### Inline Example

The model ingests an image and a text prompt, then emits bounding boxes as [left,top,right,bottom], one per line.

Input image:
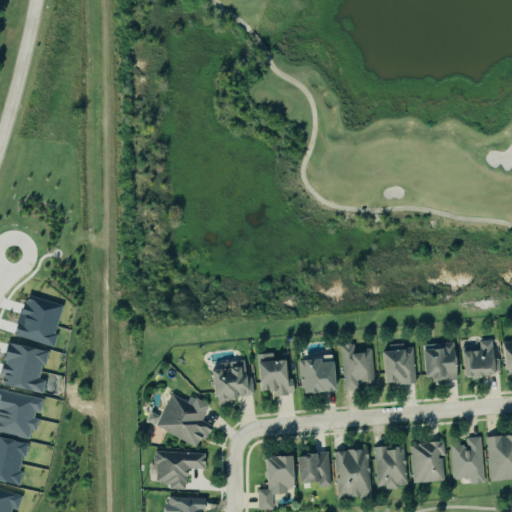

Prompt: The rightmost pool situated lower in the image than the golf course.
[302,342,329,355]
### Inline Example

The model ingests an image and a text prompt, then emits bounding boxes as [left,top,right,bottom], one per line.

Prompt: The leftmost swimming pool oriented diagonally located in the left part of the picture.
[143,387,172,415]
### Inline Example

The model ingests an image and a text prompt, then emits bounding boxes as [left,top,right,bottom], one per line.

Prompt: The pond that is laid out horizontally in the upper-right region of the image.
[339,0,512,82]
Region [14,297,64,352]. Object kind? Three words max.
house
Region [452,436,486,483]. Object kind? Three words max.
house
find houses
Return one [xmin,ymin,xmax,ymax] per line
[262,456,297,510]
[336,449,373,500]
[146,394,214,448]
[0,388,44,439]
[300,354,338,396]
[488,434,512,482]
[0,490,24,512]
[0,436,30,487]
[452,436,486,483]
[164,498,207,512]
[412,441,446,483]
[342,344,376,392]
[154,452,206,490]
[384,343,417,384]
[258,352,296,392]
[464,339,503,380]
[374,446,408,489]
[426,340,459,382]
[214,356,256,404]
[300,450,334,489]
[0,344,46,394]
[14,297,64,352]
